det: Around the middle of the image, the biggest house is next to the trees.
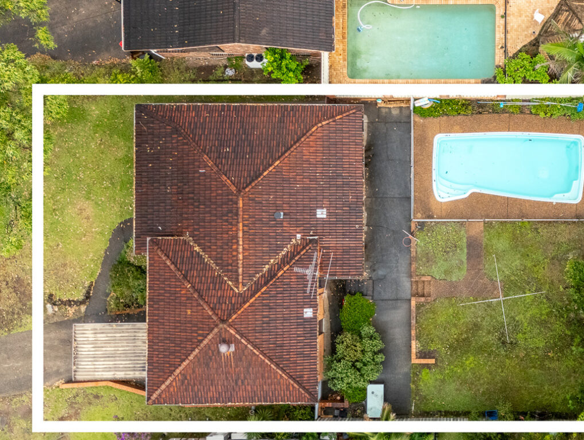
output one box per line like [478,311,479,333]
[131,100,367,408]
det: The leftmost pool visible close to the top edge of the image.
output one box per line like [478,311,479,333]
[342,0,501,84]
